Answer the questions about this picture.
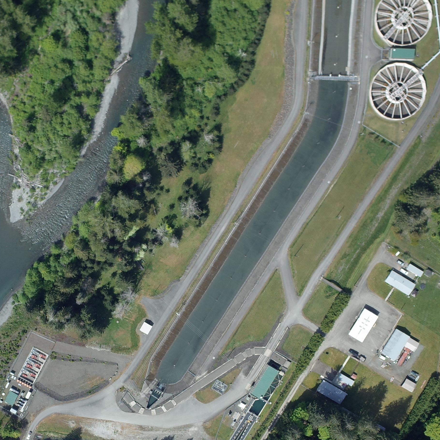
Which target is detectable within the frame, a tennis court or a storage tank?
storage tank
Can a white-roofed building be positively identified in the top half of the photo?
No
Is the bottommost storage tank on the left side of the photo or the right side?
right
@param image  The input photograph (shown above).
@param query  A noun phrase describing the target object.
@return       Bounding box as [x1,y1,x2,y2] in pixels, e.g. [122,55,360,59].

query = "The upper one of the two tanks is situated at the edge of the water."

[374,0,432,46]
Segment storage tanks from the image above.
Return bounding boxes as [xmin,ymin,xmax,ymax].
[368,63,427,122]
[374,0,432,46]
